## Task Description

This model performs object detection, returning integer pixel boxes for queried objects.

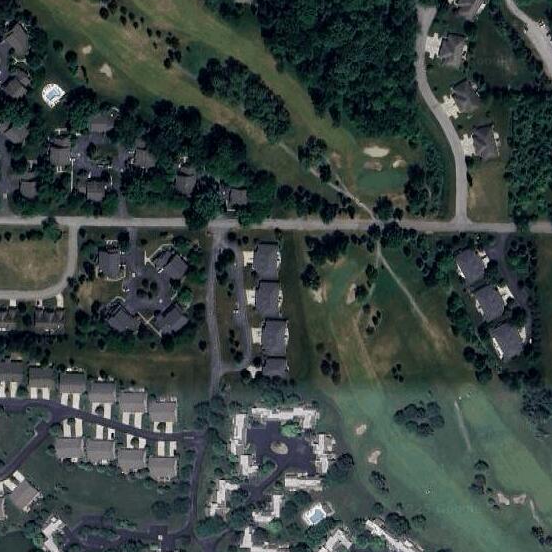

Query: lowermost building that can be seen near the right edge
[490,320,527,363]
